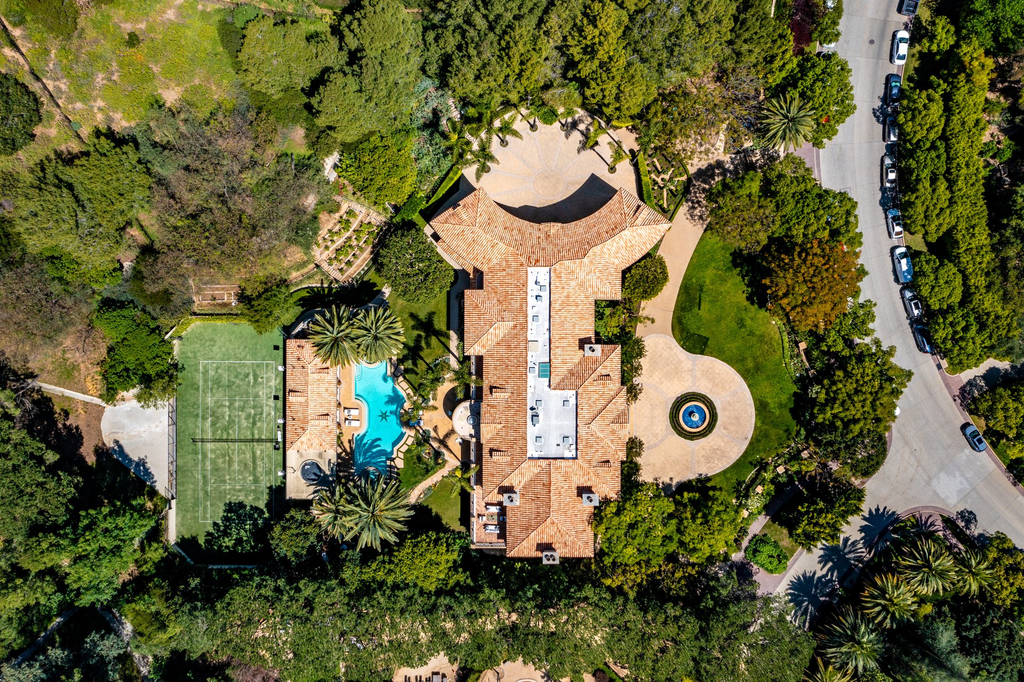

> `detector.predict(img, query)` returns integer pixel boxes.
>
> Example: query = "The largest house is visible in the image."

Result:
[429,186,672,564]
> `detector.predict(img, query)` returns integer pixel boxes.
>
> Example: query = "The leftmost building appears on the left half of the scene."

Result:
[285,338,341,499]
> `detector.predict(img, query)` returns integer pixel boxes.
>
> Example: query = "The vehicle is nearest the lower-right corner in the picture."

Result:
[960,421,987,453]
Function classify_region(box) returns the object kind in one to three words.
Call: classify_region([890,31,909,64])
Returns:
car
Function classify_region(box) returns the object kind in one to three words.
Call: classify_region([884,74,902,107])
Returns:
car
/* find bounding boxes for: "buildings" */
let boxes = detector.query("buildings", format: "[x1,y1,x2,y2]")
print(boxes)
[285,338,341,499]
[429,186,672,564]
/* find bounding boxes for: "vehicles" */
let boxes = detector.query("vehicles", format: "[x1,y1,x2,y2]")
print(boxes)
[885,402,900,424]
[892,246,913,284]
[890,31,909,64]
[885,209,903,240]
[960,421,987,453]
[880,156,897,188]
[911,321,933,354]
[896,0,914,18]
[819,38,833,51]
[884,74,902,107]
[882,113,900,146]
[901,287,923,319]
